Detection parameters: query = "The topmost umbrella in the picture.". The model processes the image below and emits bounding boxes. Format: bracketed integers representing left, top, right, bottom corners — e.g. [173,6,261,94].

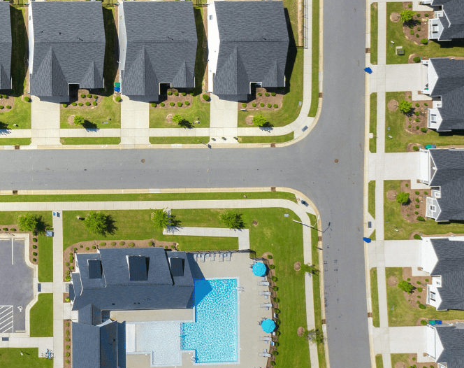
[251,261,267,276]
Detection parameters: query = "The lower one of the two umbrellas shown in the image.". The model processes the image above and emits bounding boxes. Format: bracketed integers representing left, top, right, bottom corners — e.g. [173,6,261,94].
[260,318,276,332]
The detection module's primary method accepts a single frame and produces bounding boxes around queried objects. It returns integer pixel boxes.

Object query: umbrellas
[260,318,276,332]
[251,261,267,276]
